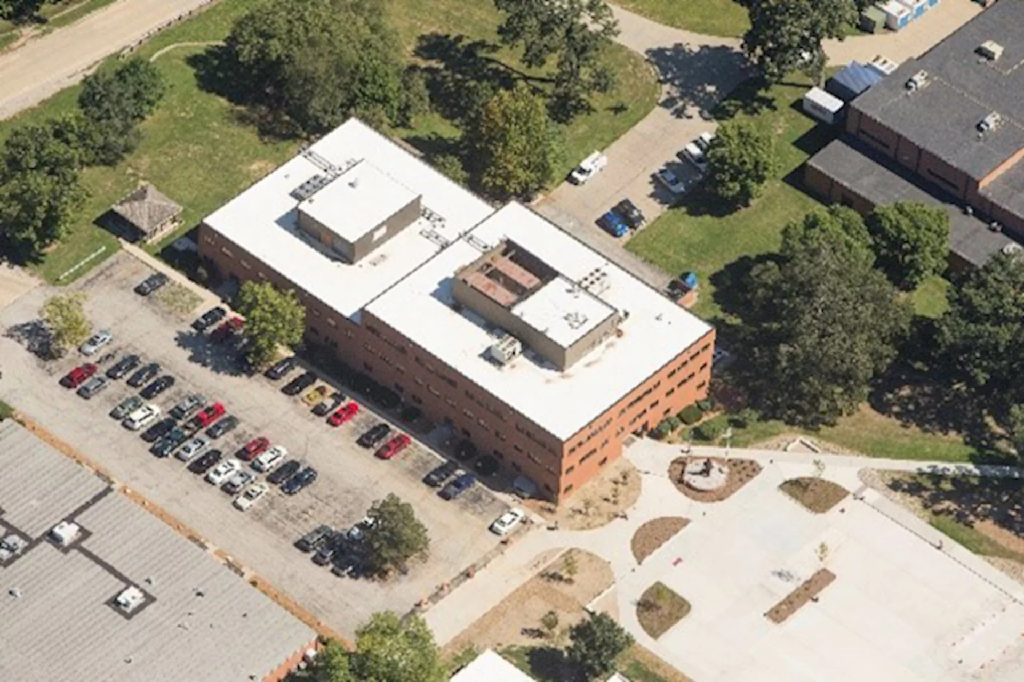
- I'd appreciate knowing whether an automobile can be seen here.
Yes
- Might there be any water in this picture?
No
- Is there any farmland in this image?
No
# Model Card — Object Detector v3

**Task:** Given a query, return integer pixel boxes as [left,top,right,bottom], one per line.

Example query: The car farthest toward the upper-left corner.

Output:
[133,272,168,298]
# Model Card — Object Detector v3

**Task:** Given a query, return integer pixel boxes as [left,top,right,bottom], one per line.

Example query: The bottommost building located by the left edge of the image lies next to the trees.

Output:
[0,409,319,682]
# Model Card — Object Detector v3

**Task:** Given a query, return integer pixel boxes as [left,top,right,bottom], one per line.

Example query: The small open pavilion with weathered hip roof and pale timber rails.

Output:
[110,184,183,245]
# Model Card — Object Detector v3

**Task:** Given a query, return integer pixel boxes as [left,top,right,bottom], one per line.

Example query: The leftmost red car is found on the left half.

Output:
[61,363,97,390]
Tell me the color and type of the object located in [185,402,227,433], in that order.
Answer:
red truck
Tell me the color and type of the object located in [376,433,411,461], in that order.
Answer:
red car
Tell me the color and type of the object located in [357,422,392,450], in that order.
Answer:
black car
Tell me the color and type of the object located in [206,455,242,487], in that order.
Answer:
white car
